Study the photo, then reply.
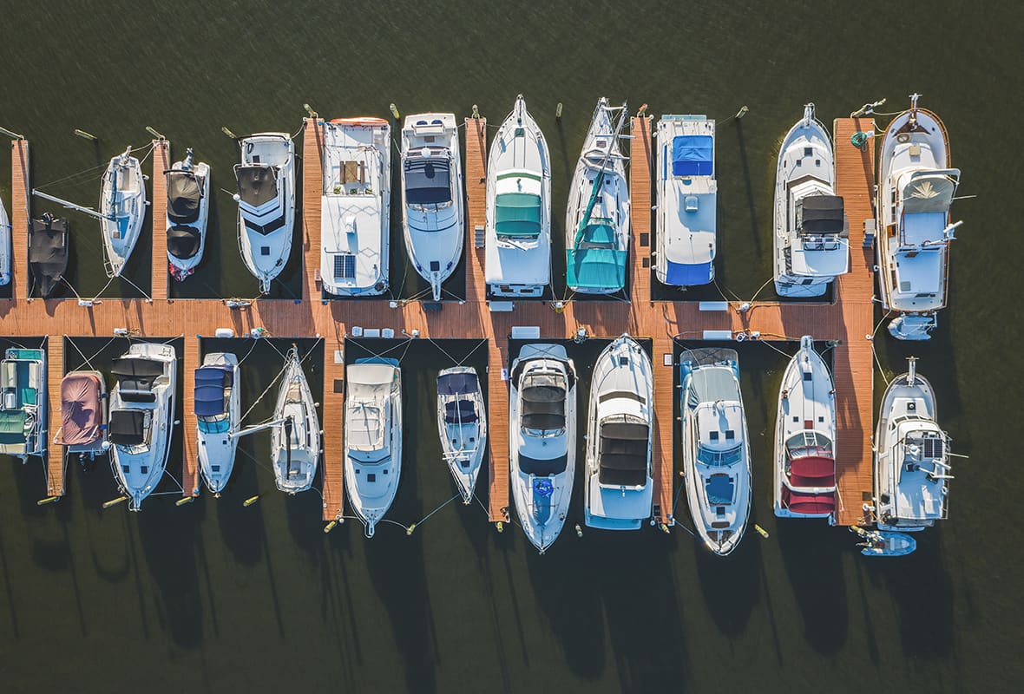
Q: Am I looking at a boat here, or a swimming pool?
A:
boat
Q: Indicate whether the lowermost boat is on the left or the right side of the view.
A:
right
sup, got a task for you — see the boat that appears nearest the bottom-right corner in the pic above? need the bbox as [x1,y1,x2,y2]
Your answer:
[856,530,918,558]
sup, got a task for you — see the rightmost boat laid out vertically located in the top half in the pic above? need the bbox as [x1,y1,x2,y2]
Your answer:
[875,93,976,312]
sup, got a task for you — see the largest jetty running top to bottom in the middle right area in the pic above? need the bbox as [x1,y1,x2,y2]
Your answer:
[833,118,875,526]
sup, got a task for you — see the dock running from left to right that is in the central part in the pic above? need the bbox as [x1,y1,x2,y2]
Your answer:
[0,298,835,340]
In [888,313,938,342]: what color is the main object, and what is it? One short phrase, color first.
blue boat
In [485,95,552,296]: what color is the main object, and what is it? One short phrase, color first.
white boat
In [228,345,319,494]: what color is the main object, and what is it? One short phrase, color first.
white boat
